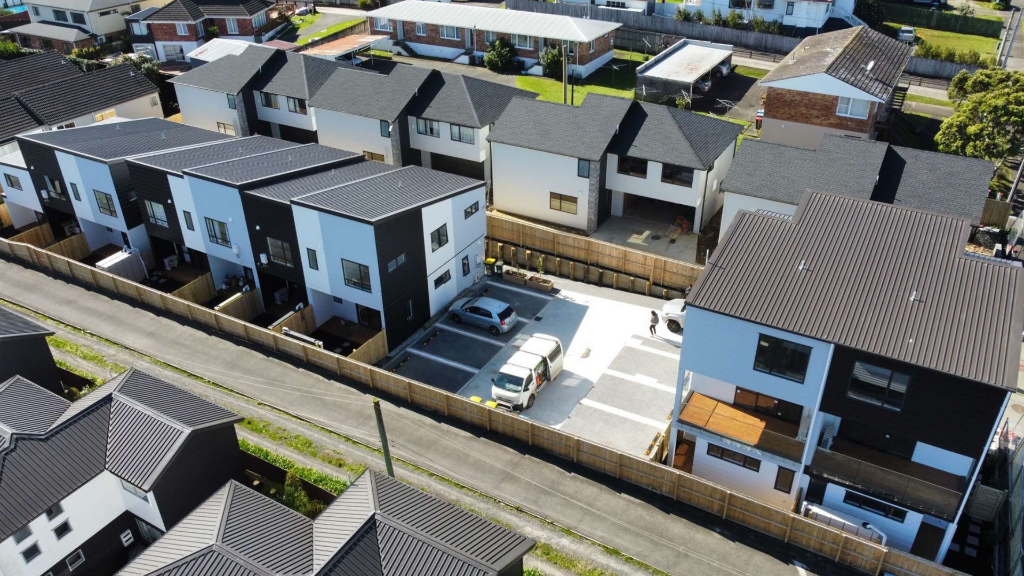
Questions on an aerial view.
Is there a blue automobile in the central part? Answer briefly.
Yes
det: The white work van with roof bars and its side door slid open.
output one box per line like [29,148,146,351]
[493,333,564,411]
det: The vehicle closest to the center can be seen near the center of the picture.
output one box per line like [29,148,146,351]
[447,296,520,337]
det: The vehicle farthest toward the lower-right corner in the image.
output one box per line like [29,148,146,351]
[661,299,691,333]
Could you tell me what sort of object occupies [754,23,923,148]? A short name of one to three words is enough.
house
